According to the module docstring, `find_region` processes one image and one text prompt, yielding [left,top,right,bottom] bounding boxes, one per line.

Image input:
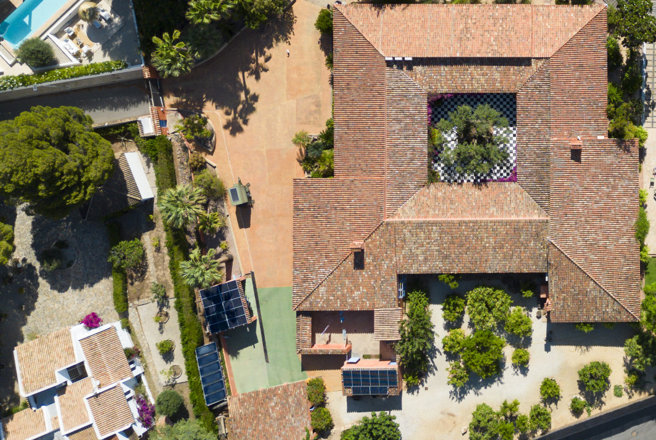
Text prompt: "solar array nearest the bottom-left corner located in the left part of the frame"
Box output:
[196,340,233,404]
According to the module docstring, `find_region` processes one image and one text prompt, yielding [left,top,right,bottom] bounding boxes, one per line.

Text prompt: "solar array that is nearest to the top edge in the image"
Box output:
[200,281,247,333]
